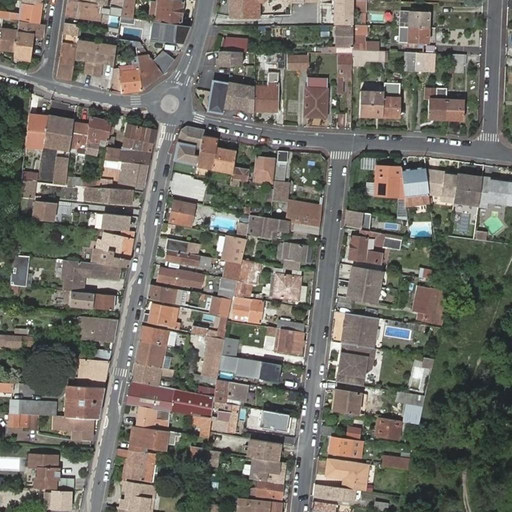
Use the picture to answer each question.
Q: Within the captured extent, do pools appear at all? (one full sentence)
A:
Yes, looking at the shot, I can spot a pool.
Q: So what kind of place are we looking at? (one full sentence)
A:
The picture captures a residential area.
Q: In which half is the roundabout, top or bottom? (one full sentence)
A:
It is in the top half that the roundabout appears.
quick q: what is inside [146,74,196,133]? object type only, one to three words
roundabout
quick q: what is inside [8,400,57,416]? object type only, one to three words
building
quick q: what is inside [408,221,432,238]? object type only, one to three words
swimming pool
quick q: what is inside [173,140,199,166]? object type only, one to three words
house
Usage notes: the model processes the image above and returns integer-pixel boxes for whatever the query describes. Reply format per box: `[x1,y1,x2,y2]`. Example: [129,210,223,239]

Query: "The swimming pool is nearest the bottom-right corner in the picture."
[383,326,412,340]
